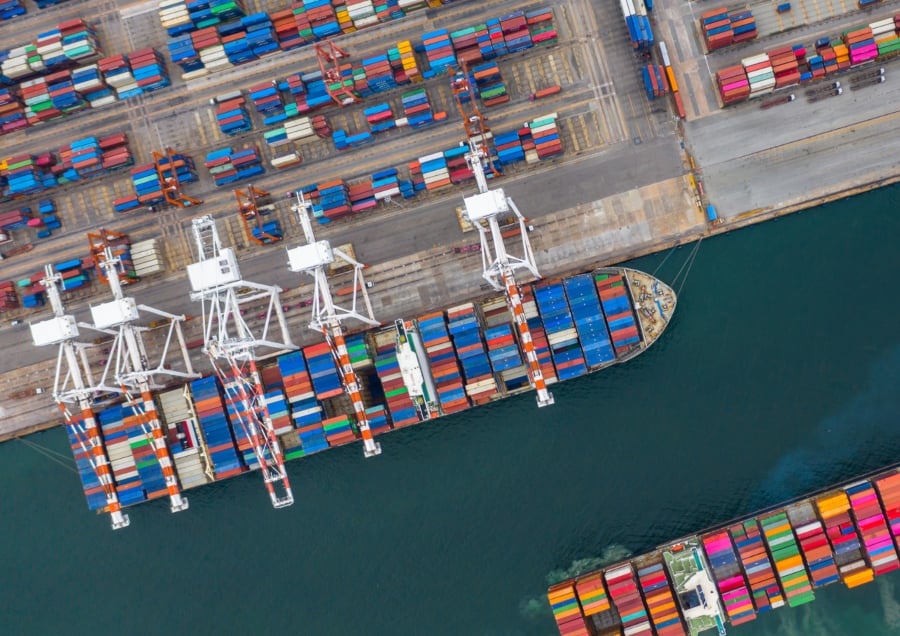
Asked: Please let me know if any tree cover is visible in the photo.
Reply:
No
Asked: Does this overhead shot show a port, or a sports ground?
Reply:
port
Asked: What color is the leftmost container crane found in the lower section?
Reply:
white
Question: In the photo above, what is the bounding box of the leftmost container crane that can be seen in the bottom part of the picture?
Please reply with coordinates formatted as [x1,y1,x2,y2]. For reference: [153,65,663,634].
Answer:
[25,264,143,529]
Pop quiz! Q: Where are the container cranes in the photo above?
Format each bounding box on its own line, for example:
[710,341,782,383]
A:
[85,246,209,512]
[464,117,505,184]
[232,184,283,248]
[280,191,389,456]
[25,264,143,529]
[455,141,554,406]
[179,208,301,507]
[445,59,489,129]
[84,227,142,289]
[149,143,204,208]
